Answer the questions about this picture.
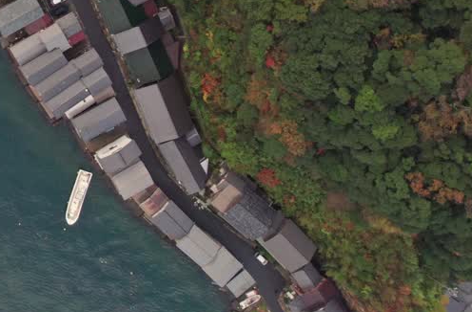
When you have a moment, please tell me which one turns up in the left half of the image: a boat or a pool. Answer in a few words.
boat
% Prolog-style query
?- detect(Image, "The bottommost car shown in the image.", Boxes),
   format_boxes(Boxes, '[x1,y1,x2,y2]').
[254,252,268,268]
